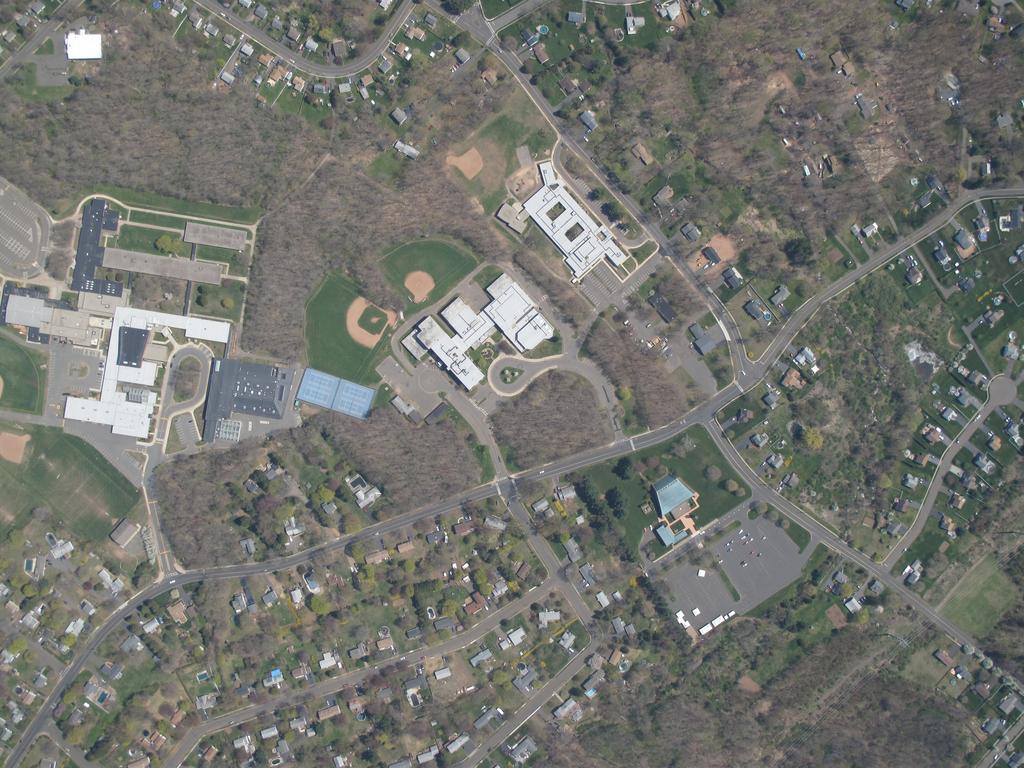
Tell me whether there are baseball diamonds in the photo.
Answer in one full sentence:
Yes, the frame does contain a baseball diamond.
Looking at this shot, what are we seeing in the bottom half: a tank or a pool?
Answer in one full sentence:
The one visible in the bottom half is a pool.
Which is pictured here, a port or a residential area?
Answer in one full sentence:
The area seen from above is a residential area.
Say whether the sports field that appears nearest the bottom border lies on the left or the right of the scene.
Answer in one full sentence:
The sports field that appears nearest the bottom border sits on the left side.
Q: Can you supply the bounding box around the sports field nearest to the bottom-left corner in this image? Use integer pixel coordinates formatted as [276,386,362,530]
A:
[0,424,139,545]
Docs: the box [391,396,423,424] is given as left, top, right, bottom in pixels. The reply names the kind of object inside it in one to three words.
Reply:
shed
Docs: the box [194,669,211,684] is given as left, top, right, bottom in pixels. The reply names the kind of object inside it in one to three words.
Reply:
swimming pool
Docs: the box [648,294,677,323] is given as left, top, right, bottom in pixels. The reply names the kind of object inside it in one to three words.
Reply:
building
